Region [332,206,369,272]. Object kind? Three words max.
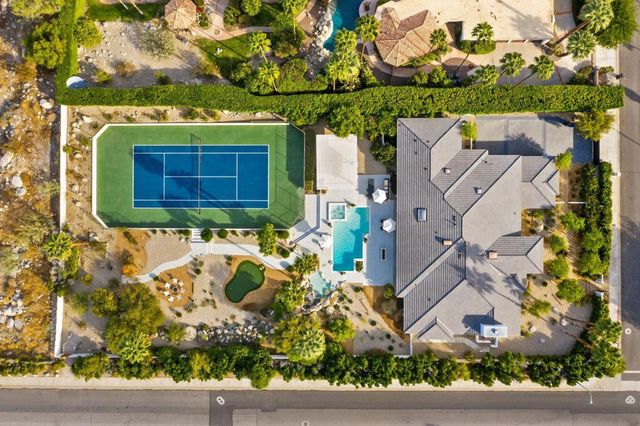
swimming pool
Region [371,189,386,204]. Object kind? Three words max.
umbrella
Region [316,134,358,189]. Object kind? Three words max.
building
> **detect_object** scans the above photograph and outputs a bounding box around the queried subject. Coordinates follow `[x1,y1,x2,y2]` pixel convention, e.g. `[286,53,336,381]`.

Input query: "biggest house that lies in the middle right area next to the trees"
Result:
[397,117,561,342]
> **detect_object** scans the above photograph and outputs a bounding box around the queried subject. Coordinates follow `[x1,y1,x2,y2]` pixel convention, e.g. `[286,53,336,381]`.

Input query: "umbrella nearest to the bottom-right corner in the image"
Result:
[382,219,395,232]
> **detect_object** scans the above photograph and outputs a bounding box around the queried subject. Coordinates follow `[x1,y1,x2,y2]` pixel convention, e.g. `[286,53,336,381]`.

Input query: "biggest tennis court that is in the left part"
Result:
[92,106,306,230]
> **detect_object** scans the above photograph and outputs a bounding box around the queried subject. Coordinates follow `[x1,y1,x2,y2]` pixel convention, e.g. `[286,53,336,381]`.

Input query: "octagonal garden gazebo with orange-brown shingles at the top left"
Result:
[164,0,200,32]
